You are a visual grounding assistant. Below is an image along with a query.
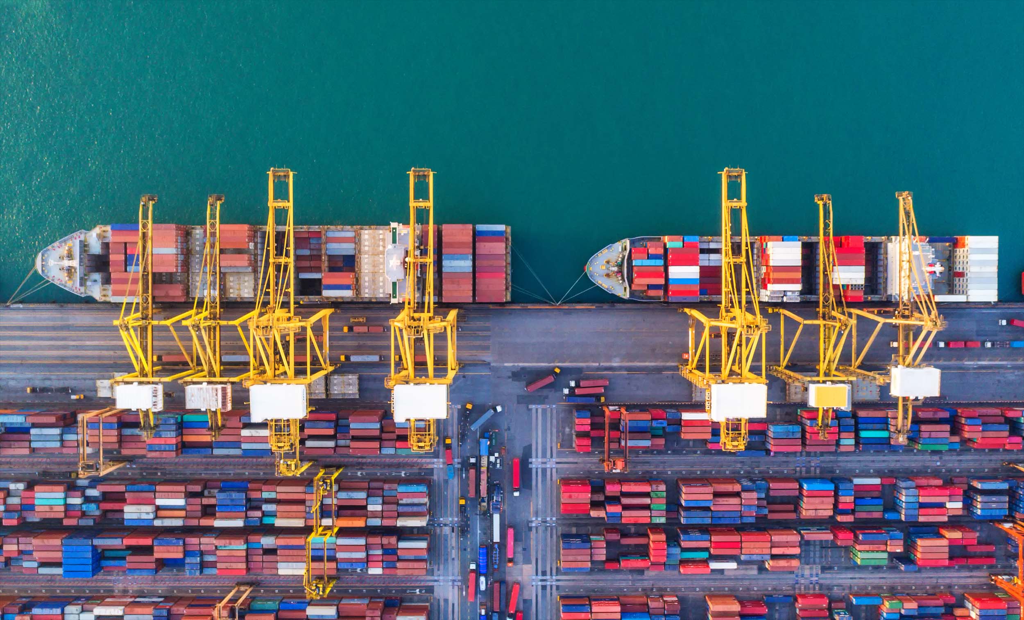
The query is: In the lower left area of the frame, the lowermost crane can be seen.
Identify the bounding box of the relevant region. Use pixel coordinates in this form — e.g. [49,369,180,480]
[217,583,253,620]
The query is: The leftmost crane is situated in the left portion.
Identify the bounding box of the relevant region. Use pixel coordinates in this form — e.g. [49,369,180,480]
[79,406,122,479]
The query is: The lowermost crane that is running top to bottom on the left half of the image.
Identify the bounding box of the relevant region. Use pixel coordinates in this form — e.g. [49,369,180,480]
[305,525,337,599]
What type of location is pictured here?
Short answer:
port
